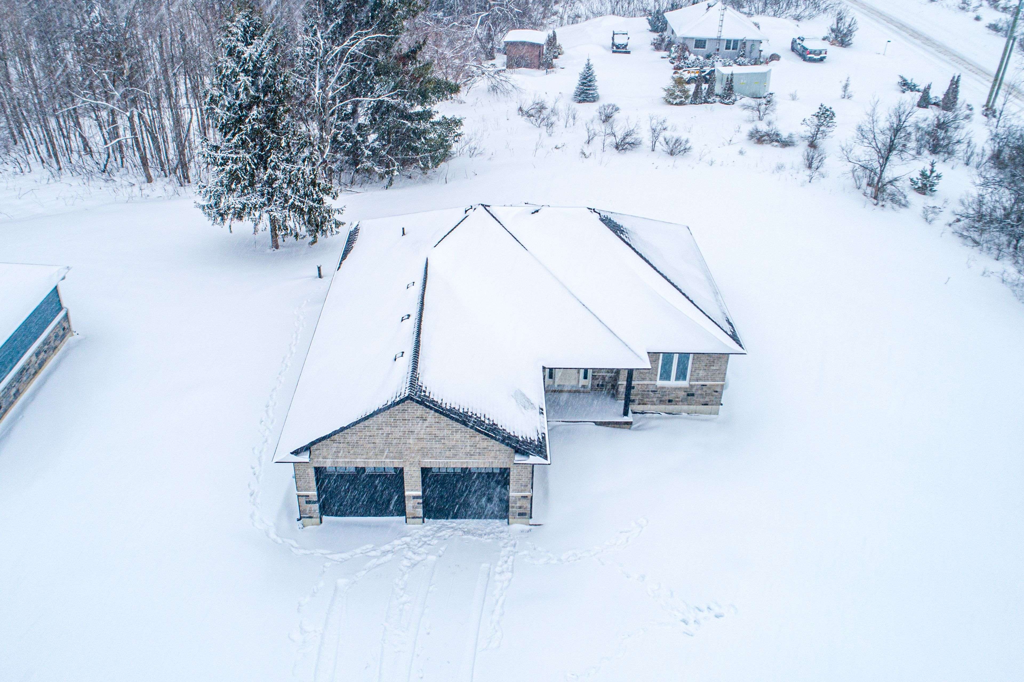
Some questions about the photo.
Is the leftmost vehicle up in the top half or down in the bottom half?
top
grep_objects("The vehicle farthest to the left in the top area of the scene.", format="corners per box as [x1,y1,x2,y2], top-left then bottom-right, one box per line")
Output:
[611,25,631,54]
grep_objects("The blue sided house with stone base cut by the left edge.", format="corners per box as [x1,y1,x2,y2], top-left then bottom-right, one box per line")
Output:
[0,264,89,430]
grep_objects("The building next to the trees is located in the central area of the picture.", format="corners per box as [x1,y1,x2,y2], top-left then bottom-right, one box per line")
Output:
[269,200,750,527]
